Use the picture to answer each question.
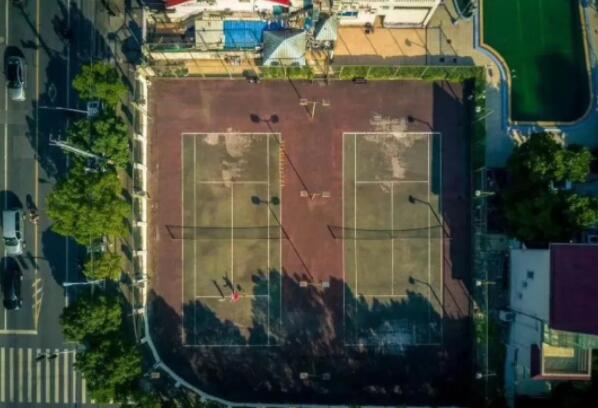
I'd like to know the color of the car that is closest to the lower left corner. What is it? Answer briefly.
black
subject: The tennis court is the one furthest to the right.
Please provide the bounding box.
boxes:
[343,132,442,346]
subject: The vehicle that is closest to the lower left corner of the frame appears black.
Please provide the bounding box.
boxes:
[1,261,24,305]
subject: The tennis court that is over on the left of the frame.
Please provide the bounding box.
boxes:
[182,132,281,346]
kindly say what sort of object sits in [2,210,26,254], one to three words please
car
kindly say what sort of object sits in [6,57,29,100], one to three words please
car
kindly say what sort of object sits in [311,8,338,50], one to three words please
building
